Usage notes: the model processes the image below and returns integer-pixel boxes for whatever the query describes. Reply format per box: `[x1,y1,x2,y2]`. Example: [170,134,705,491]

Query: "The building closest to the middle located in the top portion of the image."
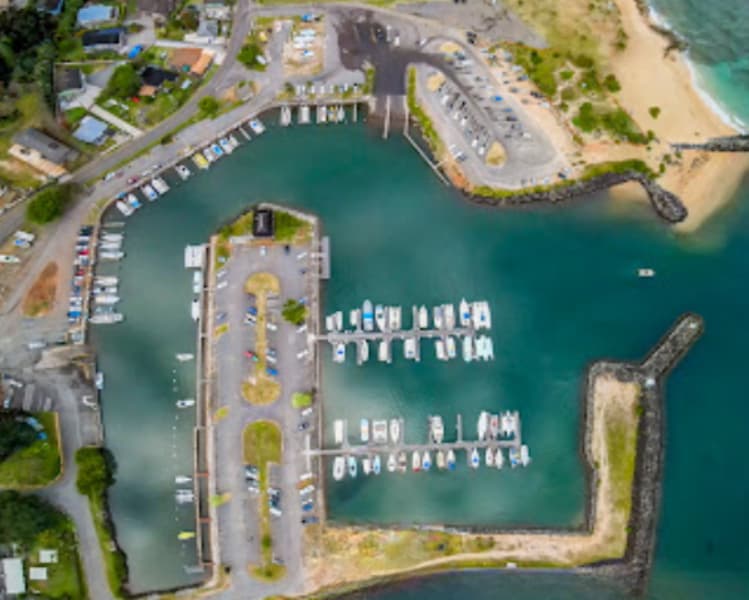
[253,209,274,236]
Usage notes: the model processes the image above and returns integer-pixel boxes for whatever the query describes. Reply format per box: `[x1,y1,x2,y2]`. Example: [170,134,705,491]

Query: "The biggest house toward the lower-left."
[2,555,28,596]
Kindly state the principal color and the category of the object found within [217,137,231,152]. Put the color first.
white boat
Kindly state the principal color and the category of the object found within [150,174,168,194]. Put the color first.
white boat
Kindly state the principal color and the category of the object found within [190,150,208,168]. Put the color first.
yellow boat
